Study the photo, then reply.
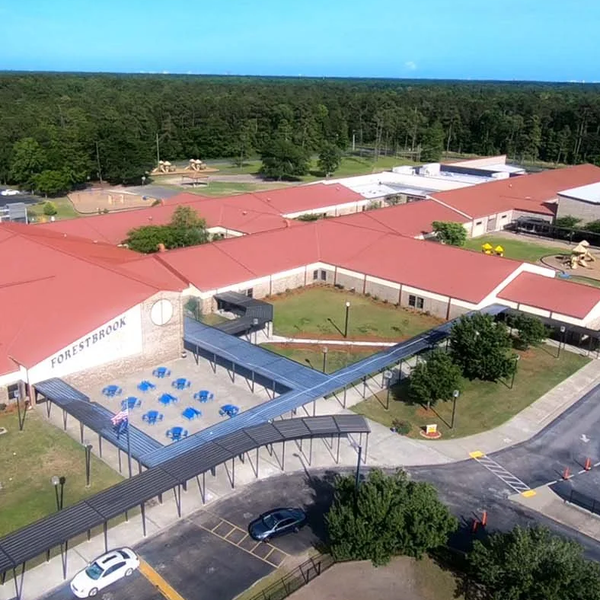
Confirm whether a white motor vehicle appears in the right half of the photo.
No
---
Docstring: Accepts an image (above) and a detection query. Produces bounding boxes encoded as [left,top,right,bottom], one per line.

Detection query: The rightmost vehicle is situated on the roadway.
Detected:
[244,504,308,540]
